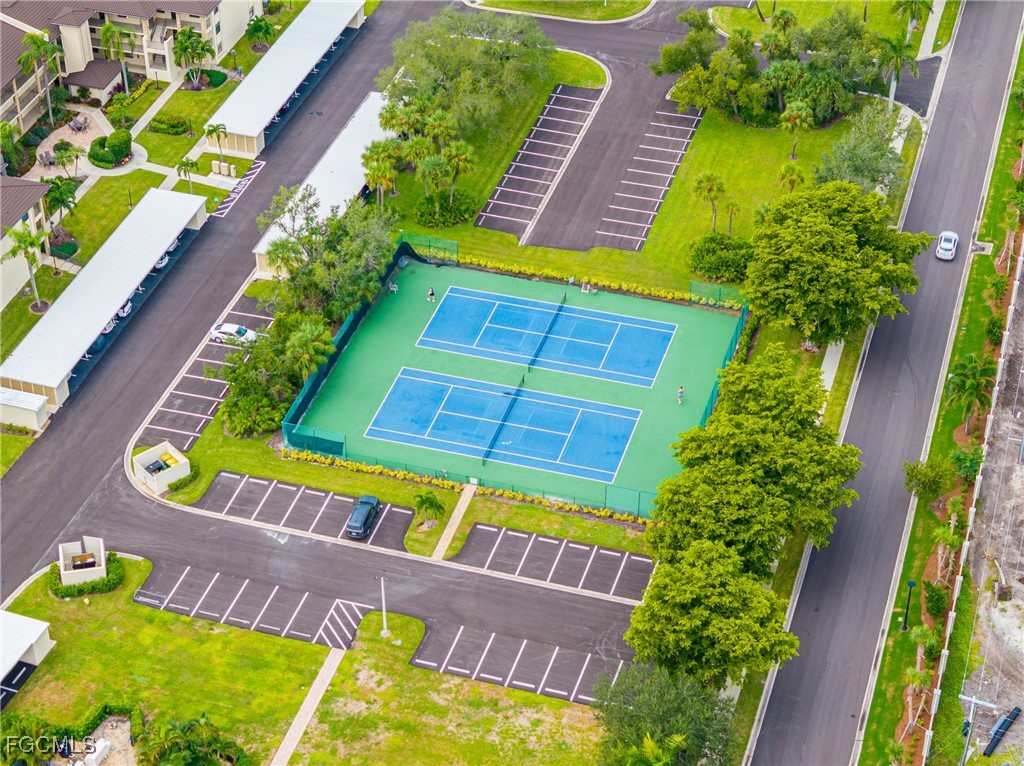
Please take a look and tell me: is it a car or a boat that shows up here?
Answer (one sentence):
There is a car in the scene.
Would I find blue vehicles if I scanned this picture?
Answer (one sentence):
Yes, you can see a blue vehicle in this photo.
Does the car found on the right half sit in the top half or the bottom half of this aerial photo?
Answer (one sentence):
The top half of the photo is where the car found on the right half is.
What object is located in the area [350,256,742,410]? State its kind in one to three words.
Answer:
tennis court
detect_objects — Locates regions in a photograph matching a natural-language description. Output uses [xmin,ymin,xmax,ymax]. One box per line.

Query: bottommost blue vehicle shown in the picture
[345,495,383,536]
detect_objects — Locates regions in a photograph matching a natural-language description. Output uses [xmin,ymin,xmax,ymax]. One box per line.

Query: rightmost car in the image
[934,231,958,259]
